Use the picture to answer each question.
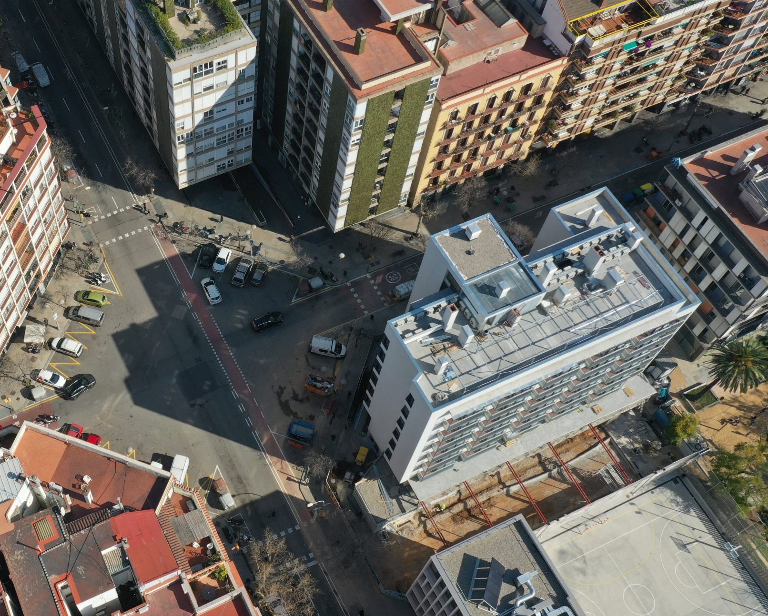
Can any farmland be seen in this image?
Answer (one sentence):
No, the scene doesn't show any farmland.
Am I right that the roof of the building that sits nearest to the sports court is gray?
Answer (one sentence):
Yes, the roof of the building that sits nearest to the sports court is gray.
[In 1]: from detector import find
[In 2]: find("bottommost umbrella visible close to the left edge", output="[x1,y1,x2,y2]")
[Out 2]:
[25,326,45,344]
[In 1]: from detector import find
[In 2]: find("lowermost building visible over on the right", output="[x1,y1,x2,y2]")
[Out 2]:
[405,515,582,616]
